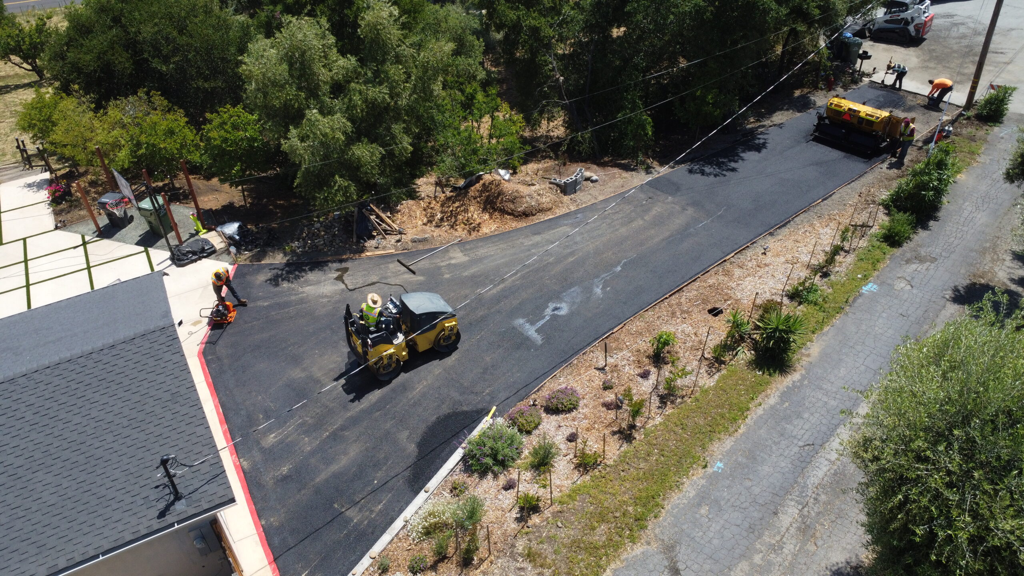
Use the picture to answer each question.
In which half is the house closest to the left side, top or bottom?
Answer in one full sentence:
Seen from above, the house closest to the left side lies in the bottom half of the view.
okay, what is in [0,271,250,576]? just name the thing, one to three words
house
